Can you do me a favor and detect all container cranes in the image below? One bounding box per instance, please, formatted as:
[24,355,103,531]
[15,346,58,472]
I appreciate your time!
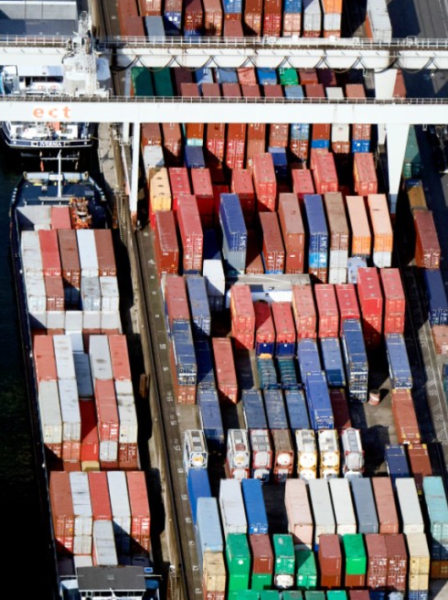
[0,0,448,215]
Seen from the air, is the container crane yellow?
No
